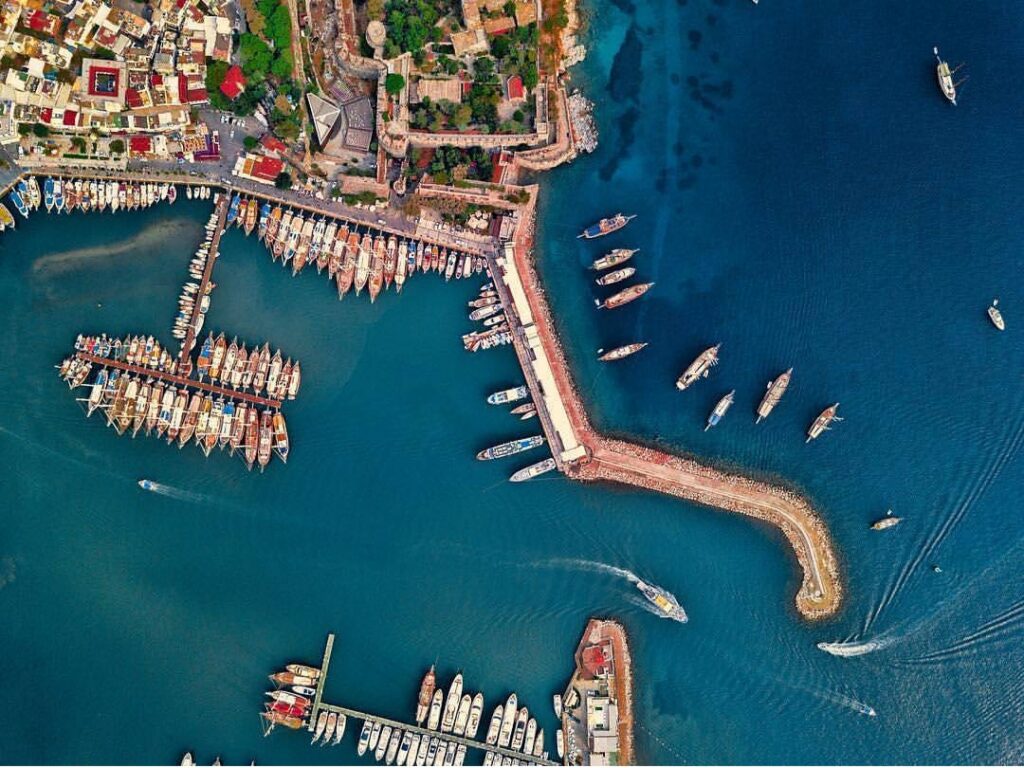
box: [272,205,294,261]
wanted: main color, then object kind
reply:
white boat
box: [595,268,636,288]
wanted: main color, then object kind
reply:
white boat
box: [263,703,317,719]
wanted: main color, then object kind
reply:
red boat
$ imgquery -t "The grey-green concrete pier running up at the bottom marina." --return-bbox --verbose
[309,633,335,730]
